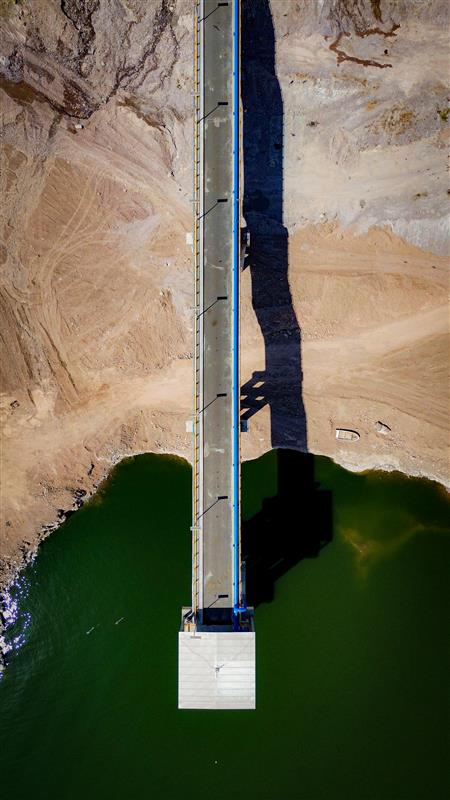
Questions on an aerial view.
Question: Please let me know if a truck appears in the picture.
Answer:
No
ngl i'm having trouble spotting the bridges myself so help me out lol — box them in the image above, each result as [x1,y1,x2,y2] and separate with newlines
[186,0,248,624]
